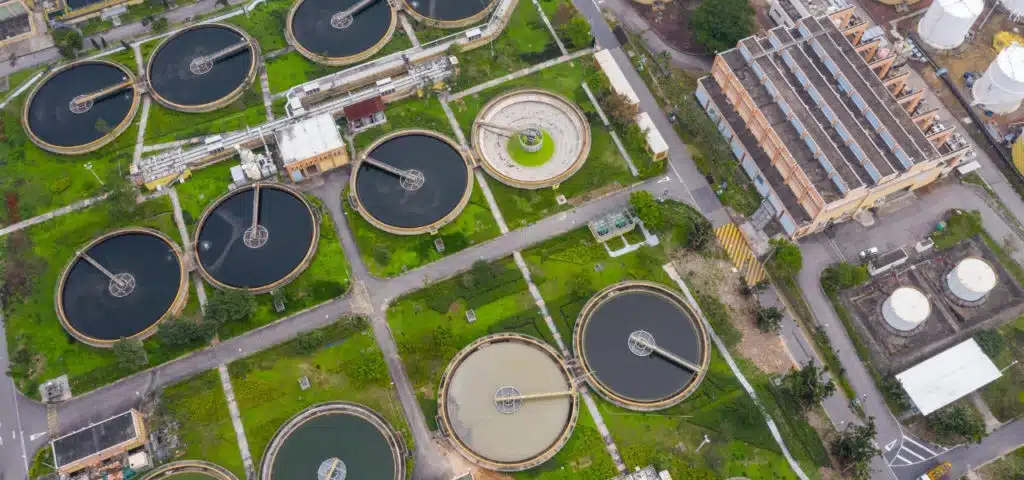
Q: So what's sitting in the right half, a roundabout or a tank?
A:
tank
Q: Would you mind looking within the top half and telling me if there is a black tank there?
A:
Yes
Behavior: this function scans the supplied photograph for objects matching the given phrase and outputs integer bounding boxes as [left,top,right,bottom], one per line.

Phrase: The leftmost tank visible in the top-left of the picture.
[23,59,143,155]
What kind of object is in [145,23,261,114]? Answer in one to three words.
storage tank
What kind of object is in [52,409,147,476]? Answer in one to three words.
building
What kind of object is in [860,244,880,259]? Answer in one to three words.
car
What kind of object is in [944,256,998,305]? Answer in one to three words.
storage tank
